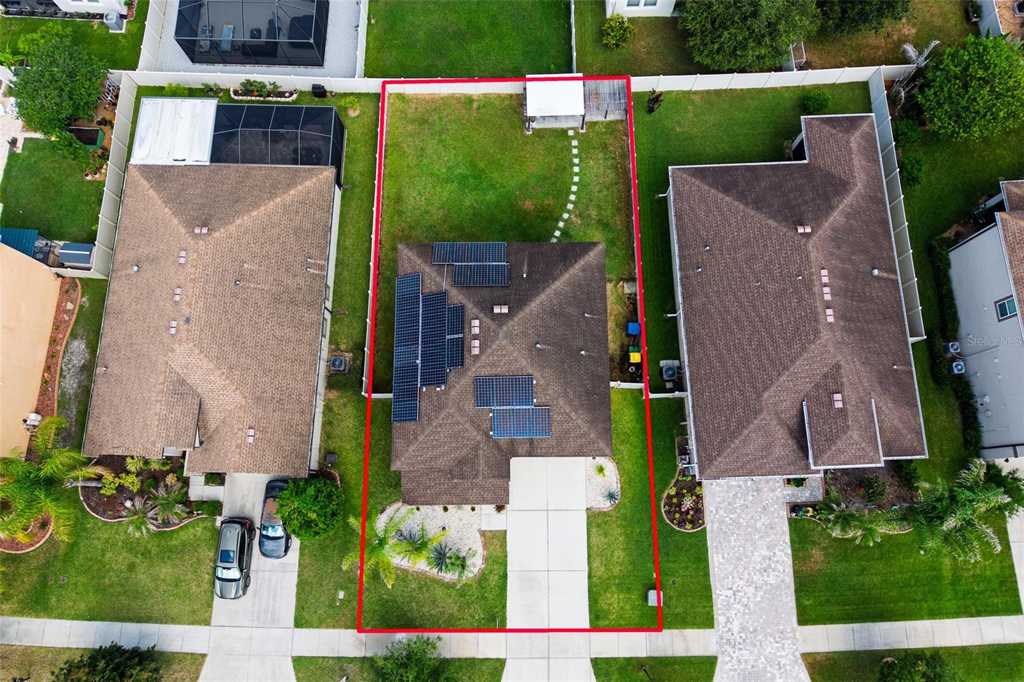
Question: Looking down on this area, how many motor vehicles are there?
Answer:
2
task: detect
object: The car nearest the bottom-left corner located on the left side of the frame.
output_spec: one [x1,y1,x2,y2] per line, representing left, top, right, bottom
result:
[208,516,257,602]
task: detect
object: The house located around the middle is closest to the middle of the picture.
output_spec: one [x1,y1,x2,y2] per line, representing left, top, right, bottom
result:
[390,242,612,505]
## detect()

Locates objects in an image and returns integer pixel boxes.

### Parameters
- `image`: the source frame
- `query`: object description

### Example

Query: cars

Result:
[252,479,293,562]
[208,516,257,602]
